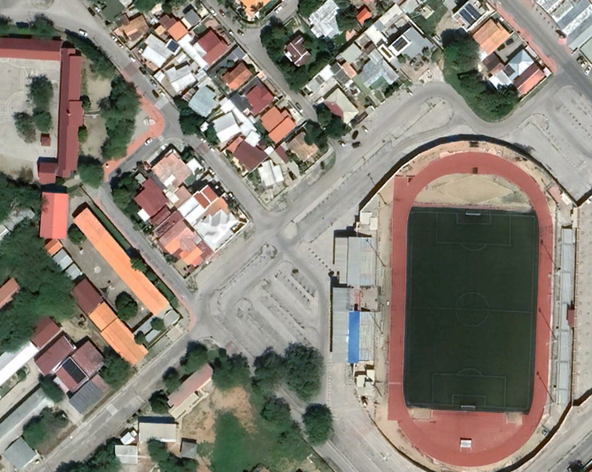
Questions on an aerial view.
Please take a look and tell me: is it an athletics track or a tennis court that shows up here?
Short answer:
athletics track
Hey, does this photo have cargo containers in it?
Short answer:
No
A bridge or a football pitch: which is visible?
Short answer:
football pitch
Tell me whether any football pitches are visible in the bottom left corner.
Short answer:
No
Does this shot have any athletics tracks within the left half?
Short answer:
No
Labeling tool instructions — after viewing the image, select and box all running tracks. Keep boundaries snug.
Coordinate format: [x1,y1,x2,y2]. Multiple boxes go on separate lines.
[388,151,552,467]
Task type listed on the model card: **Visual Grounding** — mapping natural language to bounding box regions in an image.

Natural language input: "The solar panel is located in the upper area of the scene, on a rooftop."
[459,2,480,24]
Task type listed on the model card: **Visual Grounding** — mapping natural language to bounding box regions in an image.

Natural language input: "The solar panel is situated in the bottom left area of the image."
[61,360,86,386]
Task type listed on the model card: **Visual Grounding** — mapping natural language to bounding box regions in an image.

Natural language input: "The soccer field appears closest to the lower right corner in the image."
[403,208,539,413]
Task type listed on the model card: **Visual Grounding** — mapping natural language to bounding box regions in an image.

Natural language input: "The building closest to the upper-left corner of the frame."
[0,37,63,61]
